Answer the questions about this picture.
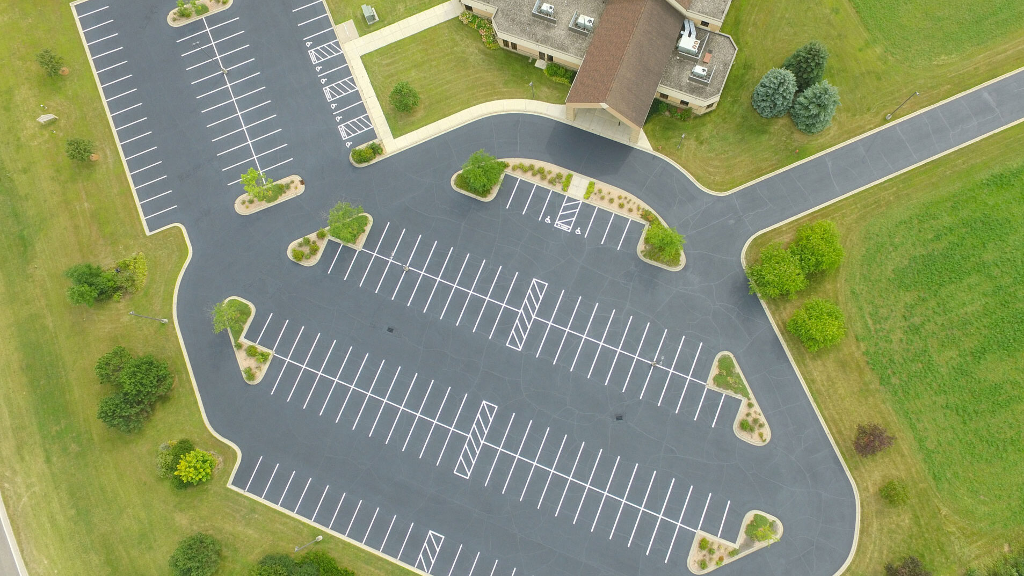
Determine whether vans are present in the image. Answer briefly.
No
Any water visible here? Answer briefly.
No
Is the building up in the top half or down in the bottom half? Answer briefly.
top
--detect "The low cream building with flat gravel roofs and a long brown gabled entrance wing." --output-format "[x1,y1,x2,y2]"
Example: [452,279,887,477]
[433,0,738,143]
